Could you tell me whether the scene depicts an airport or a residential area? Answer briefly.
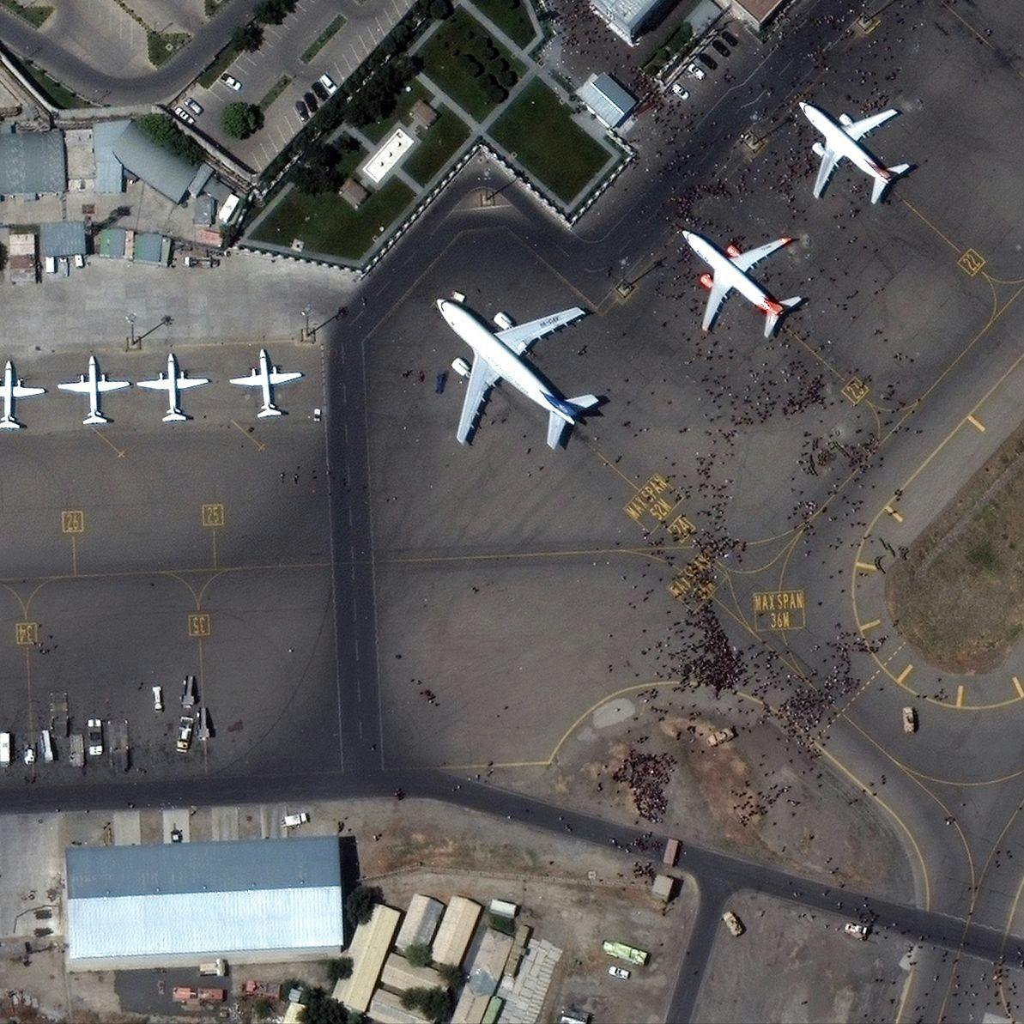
airport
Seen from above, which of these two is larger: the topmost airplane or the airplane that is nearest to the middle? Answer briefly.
the airplane that is nearest to the middle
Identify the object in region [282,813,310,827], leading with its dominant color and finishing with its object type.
white vehicle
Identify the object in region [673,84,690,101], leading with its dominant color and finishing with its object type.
white car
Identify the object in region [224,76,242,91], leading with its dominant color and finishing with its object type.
white car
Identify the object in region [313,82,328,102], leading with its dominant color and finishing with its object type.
black car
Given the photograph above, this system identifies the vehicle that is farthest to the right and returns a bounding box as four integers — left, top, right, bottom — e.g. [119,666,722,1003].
[904,707,916,733]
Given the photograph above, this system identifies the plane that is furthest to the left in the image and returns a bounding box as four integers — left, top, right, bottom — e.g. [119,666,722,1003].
[0,361,45,430]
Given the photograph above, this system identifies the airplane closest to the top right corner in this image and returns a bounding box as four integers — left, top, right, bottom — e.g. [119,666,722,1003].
[799,102,911,204]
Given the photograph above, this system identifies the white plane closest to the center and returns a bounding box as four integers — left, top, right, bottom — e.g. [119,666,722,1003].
[436,299,599,448]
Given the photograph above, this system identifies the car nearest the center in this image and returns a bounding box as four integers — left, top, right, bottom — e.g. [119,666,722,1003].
[435,372,447,394]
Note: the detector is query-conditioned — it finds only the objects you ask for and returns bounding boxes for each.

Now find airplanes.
[0,361,45,430]
[58,356,129,425]
[799,102,911,204]
[683,230,804,335]
[436,299,599,448]
[230,349,301,418]
[137,353,209,422]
